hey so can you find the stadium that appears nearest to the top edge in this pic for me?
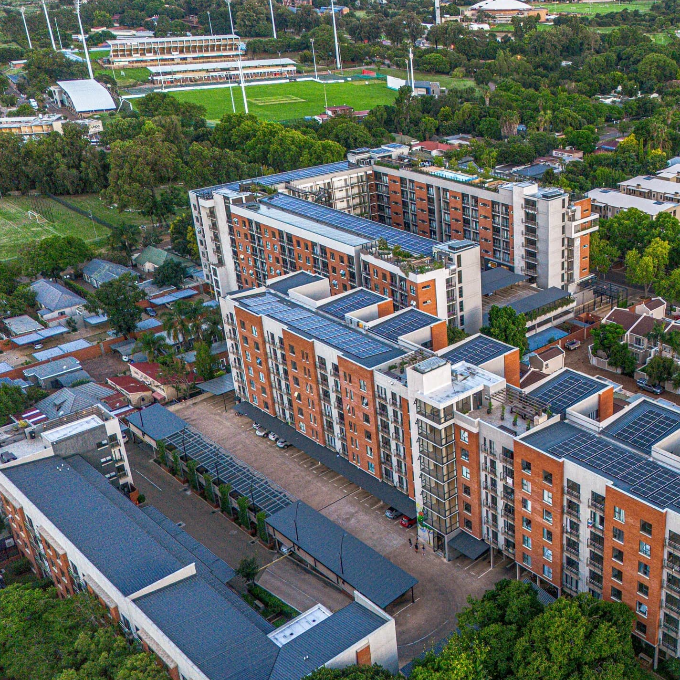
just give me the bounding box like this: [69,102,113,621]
[459,0,577,31]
